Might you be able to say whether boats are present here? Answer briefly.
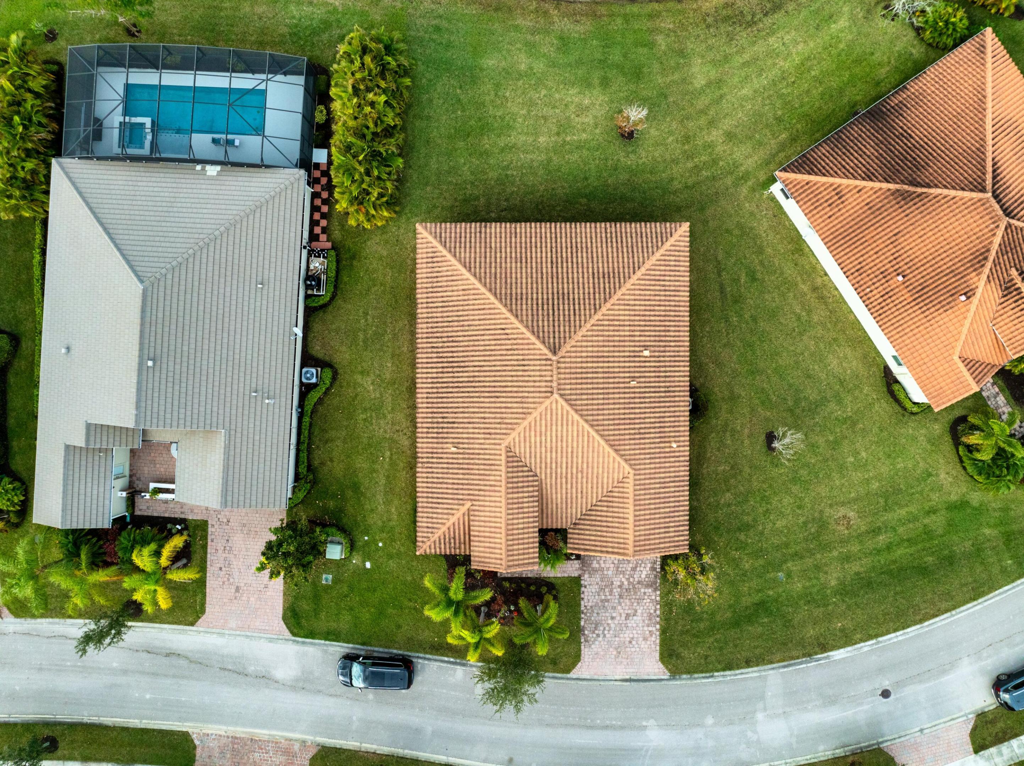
No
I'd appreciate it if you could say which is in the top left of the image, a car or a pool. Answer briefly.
pool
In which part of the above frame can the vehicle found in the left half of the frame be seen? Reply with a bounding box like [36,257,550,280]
[336,651,415,693]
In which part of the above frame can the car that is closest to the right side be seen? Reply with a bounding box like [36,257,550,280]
[991,668,1024,714]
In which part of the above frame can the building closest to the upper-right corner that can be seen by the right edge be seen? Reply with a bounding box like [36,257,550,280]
[762,24,1024,412]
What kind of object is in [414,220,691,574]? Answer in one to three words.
house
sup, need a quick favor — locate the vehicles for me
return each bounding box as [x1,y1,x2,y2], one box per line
[991,668,1024,714]
[336,651,415,693]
